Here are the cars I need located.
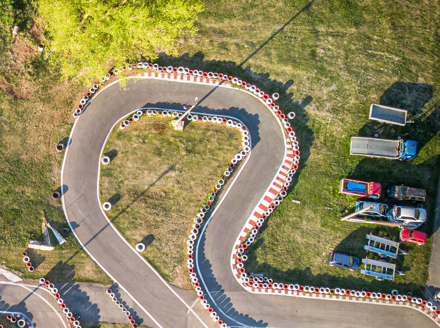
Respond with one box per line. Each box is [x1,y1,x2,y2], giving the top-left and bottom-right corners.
[328,253,359,270]
[387,185,425,202]
[355,201,388,217]
[392,205,426,221]
[429,287,440,306]
[398,228,428,244]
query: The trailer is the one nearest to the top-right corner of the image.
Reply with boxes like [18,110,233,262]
[369,103,411,126]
